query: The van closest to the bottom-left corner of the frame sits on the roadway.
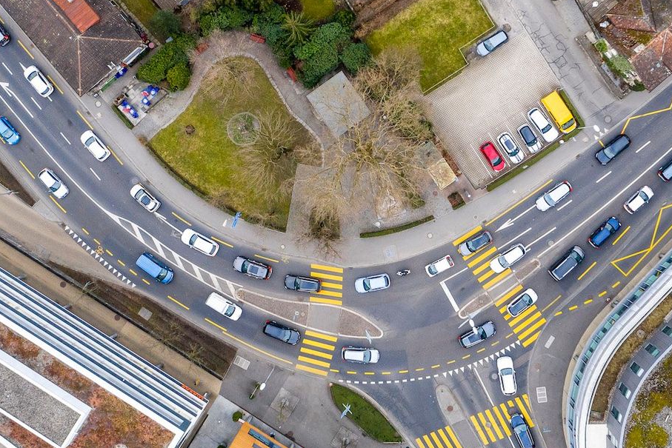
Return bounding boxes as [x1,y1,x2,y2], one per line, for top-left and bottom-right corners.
[134,252,174,283]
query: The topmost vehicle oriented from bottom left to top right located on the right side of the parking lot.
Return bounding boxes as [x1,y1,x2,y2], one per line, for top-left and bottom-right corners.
[596,134,630,164]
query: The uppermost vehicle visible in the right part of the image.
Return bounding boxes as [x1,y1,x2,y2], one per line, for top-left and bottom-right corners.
[475,30,509,56]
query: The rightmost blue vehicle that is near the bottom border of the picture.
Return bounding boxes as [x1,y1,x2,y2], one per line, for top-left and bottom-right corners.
[511,413,536,448]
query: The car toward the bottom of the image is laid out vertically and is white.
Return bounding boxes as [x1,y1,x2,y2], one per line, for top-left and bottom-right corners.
[498,357,515,394]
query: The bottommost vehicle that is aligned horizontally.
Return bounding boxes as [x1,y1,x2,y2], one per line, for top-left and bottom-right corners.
[341,347,378,363]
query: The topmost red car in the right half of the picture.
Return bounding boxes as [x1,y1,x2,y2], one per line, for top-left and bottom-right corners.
[480,141,505,171]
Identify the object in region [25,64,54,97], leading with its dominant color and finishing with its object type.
white car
